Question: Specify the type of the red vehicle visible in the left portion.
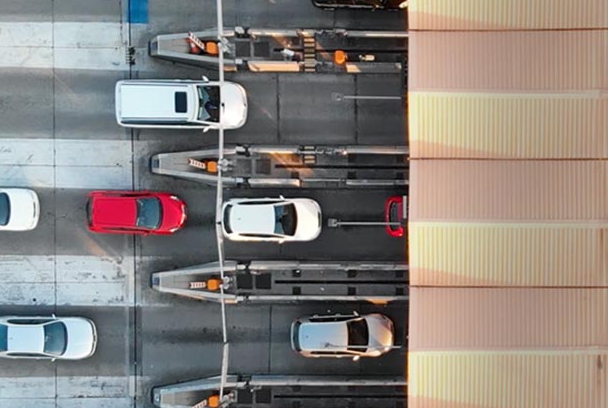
automobile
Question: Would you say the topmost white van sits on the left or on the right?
left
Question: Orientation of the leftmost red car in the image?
horizontally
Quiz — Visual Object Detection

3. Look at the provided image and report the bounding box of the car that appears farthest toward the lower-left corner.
[0,313,98,364]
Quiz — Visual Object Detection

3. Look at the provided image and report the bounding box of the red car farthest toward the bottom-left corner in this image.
[85,188,187,238]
